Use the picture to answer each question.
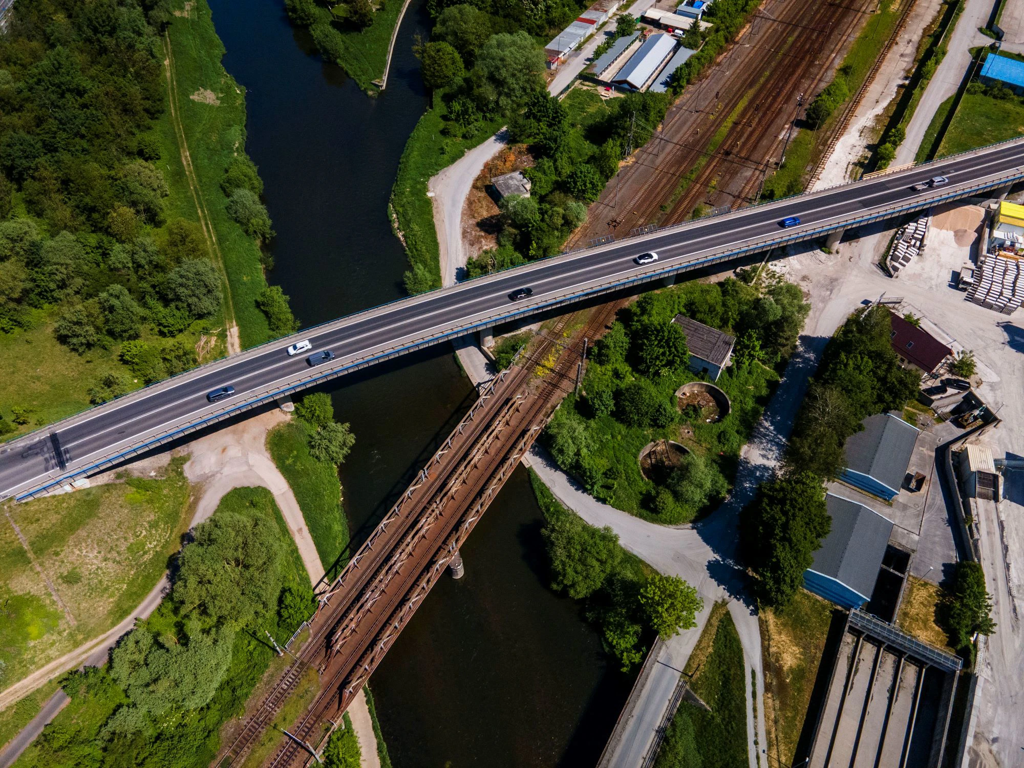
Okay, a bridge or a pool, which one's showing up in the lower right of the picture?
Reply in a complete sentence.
The feature located in the lower right of the picture is a bridge.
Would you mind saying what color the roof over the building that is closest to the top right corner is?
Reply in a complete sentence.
The roof over the building that is closest to the top right corner appears blue.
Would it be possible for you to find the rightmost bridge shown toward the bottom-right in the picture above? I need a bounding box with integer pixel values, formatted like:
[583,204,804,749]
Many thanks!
[849,599,967,664]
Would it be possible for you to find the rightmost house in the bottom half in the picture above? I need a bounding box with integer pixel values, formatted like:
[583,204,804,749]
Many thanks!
[956,444,998,519]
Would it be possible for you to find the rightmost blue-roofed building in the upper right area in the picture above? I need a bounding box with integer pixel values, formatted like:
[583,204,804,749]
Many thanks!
[979,53,1024,98]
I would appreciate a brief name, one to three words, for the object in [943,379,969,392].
vehicle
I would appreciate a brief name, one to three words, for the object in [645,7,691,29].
building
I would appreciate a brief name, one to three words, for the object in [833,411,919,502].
shed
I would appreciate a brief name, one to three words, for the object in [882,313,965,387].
house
